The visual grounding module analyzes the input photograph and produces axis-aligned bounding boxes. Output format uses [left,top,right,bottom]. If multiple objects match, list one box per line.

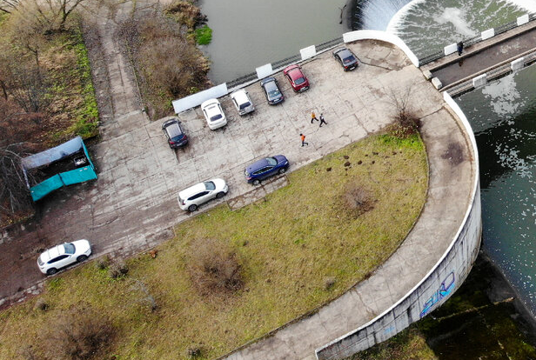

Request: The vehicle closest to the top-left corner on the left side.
[159,115,189,147]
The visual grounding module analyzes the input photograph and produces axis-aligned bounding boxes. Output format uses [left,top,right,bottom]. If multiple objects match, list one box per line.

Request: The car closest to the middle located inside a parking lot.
[239,151,292,183]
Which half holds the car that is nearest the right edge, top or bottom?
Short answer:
top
